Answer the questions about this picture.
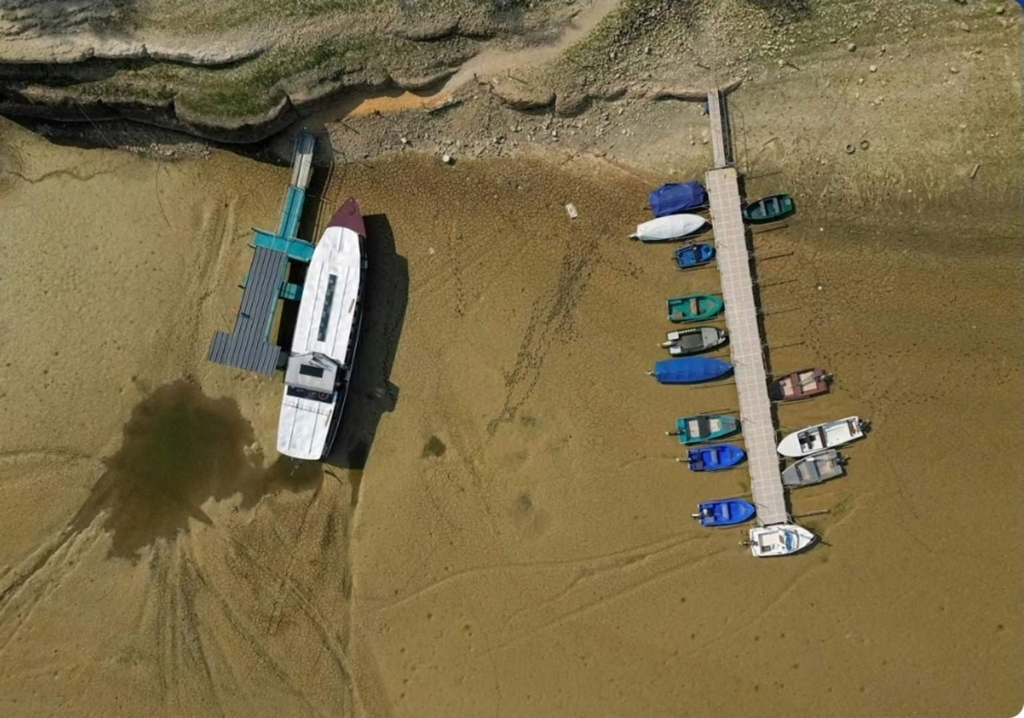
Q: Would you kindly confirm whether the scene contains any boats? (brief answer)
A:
Yes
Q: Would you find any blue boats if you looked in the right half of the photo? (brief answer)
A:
Yes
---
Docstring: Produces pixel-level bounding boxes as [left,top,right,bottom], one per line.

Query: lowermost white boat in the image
[737,525,830,556]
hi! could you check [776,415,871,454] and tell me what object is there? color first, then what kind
white boat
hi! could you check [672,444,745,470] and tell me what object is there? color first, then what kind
blue boat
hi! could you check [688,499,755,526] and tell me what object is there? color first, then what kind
blue boat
